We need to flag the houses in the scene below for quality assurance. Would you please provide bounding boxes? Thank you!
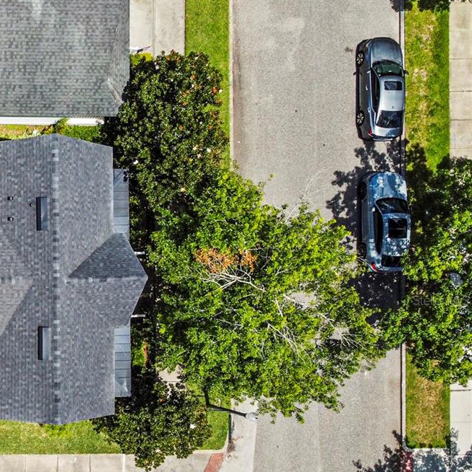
[0,133,148,425]
[0,0,130,125]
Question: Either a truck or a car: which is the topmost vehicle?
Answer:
car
